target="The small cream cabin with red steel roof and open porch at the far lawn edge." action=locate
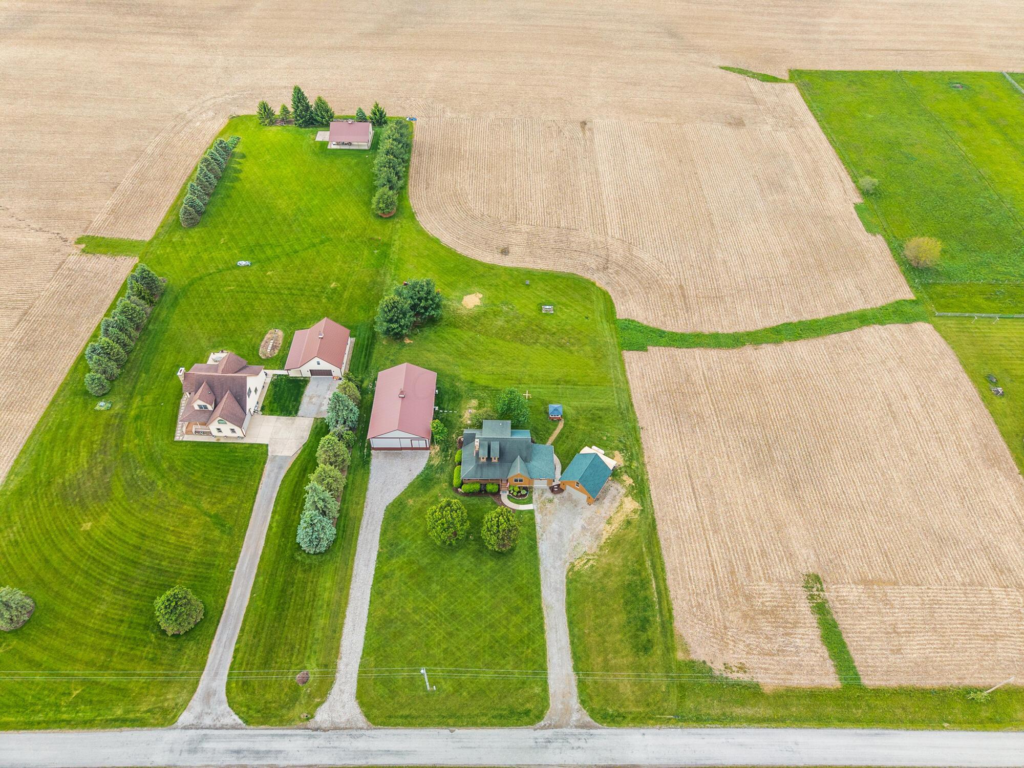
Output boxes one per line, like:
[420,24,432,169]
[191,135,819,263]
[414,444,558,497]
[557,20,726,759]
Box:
[328,121,372,147]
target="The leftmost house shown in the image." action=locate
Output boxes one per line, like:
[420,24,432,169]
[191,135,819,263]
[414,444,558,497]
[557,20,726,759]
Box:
[177,351,266,436]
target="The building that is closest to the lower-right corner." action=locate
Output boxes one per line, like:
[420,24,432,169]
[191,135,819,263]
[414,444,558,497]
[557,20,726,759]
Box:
[558,446,618,504]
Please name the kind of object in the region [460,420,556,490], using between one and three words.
house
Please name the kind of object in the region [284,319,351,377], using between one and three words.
building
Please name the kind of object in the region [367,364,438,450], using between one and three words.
barn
